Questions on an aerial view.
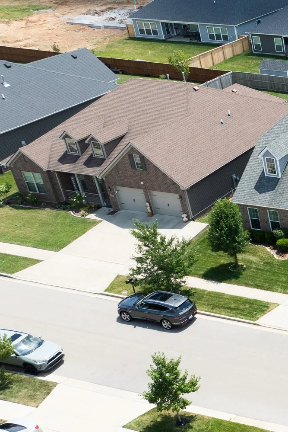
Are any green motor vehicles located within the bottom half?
No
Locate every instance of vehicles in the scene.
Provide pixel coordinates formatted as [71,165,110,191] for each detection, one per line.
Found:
[0,327,63,374]
[112,289,195,330]
[0,418,42,432]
